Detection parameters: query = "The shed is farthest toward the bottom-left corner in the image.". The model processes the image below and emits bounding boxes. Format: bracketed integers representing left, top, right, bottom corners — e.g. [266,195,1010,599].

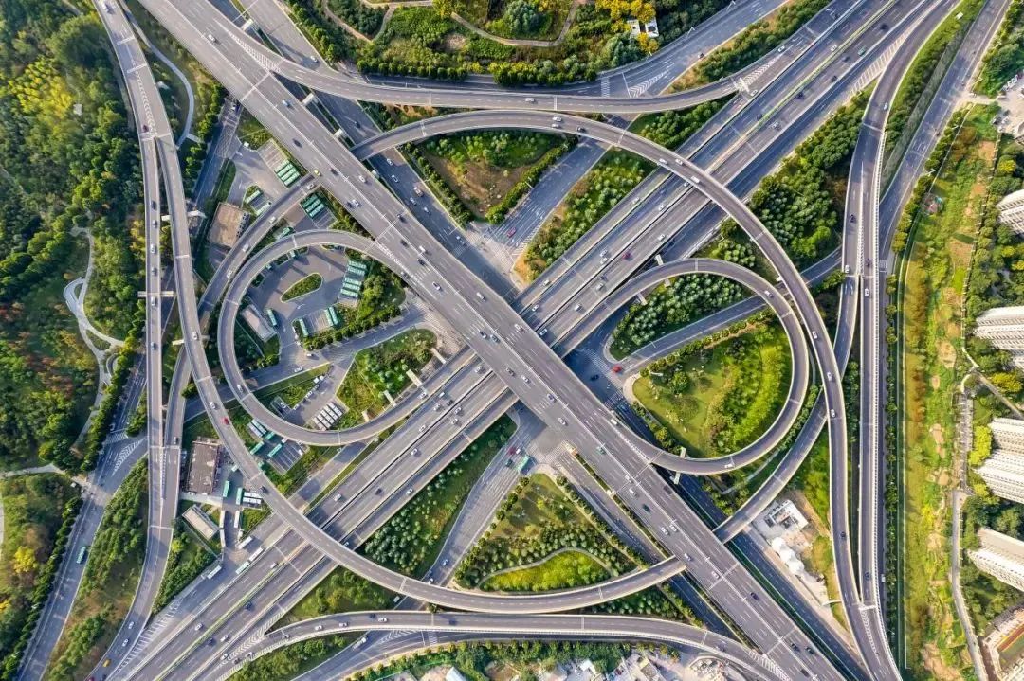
[183,506,217,539]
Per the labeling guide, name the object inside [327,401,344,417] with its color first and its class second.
white vehicle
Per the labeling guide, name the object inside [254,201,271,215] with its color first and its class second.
white vehicle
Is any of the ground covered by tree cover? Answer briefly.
Yes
